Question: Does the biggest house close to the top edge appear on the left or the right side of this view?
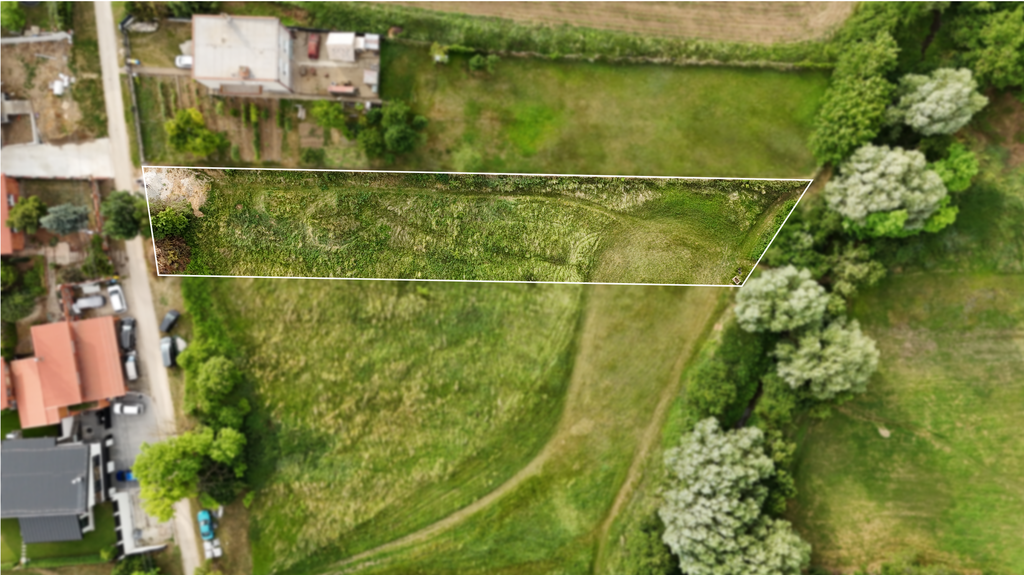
left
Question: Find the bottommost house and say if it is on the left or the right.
left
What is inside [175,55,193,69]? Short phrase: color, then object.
white car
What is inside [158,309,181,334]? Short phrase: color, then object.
gray car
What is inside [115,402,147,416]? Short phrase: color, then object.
white car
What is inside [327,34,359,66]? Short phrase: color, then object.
white gazebo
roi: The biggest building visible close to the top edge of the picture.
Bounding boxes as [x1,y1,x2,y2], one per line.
[192,11,294,100]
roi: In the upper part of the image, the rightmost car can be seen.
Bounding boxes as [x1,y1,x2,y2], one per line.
[307,33,322,61]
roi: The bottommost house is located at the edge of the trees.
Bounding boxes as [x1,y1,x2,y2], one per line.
[0,432,112,518]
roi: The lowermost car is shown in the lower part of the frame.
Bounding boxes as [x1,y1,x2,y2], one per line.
[197,509,215,541]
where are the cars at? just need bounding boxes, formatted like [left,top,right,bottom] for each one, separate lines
[307,33,322,61]
[115,402,147,416]
[77,296,107,310]
[120,317,137,349]
[197,509,215,541]
[117,469,134,483]
[175,55,193,69]
[158,309,181,334]
[124,351,141,380]
[108,285,129,314]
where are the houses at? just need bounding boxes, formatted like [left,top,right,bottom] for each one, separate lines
[0,432,112,518]
[0,173,24,254]
[192,11,294,100]
[11,315,134,428]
